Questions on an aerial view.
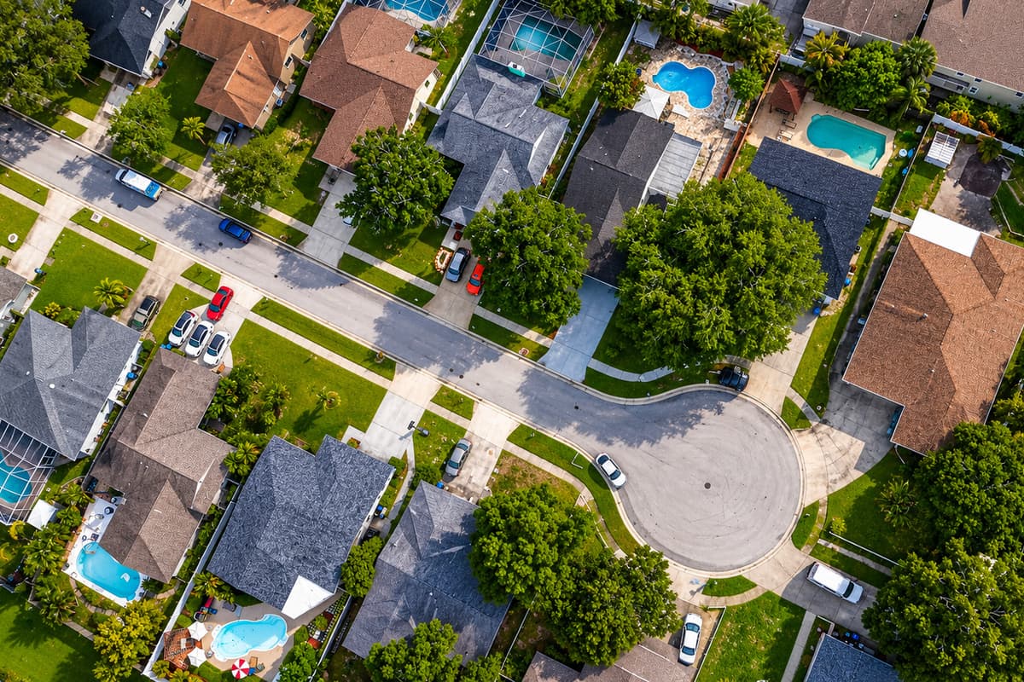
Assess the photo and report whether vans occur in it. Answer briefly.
Yes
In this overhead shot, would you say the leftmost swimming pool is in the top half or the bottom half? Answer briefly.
bottom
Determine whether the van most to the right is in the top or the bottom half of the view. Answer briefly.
bottom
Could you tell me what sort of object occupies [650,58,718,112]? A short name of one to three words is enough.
swimming pool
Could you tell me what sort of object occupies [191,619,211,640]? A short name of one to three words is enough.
umbrella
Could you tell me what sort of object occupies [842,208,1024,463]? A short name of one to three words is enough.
house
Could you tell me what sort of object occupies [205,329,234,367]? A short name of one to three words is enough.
car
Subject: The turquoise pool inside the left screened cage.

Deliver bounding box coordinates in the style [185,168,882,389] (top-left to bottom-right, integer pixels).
[0,450,33,506]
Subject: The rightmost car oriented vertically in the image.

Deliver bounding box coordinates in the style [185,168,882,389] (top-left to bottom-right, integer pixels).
[677,612,702,665]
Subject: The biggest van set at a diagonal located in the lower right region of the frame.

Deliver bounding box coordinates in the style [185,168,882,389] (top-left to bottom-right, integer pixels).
[803,559,864,605]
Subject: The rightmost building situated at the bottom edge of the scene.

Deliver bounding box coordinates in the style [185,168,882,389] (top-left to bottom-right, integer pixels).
[802,633,910,682]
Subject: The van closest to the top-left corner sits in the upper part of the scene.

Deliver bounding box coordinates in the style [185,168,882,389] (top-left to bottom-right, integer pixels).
[115,169,167,205]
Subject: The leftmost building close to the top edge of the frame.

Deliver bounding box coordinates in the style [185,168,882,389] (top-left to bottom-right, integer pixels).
[63,0,182,81]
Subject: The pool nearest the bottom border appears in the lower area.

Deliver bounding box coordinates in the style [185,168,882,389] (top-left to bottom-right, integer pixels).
[210,611,289,662]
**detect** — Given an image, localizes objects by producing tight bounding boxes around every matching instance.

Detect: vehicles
[445,244,475,286]
[208,285,236,322]
[593,451,629,491]
[217,120,241,153]
[115,169,167,205]
[205,329,234,367]
[445,436,473,478]
[220,218,256,246]
[712,363,754,394]
[170,309,201,347]
[677,612,702,665]
[803,559,864,605]
[185,318,217,357]
[133,294,162,332]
